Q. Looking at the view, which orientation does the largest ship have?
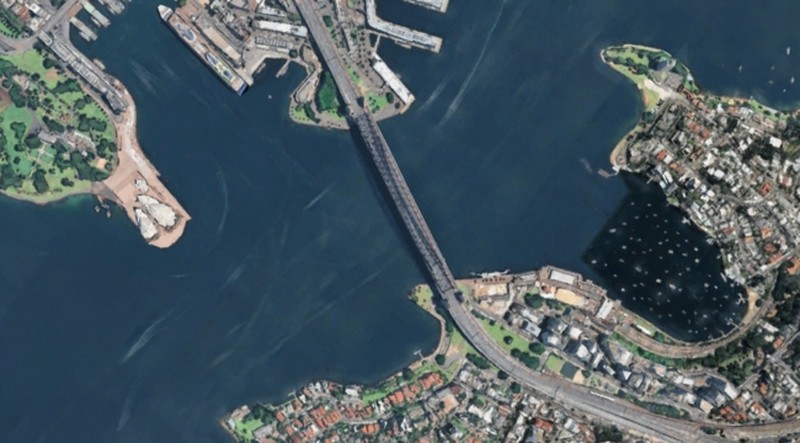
at an angle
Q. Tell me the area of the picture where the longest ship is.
top left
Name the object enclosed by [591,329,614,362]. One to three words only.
building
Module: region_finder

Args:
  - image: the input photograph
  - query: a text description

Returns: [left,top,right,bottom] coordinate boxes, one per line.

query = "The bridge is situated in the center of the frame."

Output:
[295,0,536,382]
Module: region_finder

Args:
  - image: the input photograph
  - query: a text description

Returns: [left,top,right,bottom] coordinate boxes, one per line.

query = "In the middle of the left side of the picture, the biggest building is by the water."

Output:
[127,174,184,243]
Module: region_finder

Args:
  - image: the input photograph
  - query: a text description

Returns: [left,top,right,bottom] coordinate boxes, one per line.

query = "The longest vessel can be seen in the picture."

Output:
[158,6,251,98]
